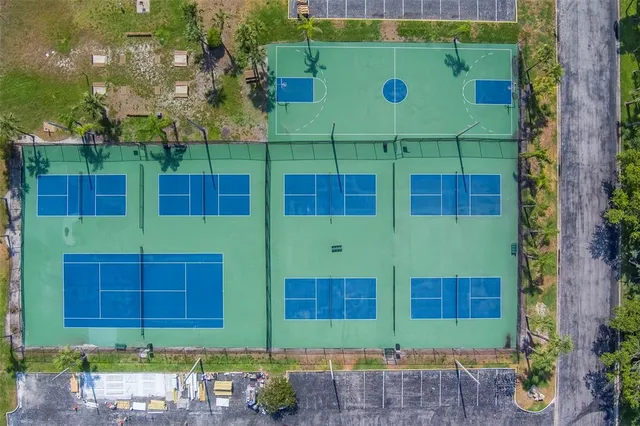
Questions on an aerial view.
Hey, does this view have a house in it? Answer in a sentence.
No, this view has no house in it.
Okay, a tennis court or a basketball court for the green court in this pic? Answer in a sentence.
The green court is a basketball court.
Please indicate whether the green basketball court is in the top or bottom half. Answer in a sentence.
You can find the green basketball court in the top half.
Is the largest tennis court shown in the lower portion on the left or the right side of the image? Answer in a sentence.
The largest tennis court shown in the lower portion sits on the left side.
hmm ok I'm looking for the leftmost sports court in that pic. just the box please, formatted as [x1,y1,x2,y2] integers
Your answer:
[37,174,126,216]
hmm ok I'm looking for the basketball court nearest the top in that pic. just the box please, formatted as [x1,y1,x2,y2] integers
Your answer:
[268,43,518,141]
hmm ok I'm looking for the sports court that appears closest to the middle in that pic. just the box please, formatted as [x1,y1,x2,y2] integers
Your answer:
[284,174,376,216]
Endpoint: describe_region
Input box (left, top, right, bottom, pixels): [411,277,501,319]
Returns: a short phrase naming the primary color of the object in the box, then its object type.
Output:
blue sports court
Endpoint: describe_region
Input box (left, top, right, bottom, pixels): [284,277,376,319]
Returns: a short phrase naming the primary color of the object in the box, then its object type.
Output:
blue sports court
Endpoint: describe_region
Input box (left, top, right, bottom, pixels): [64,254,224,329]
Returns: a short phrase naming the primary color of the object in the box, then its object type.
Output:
blue tennis court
